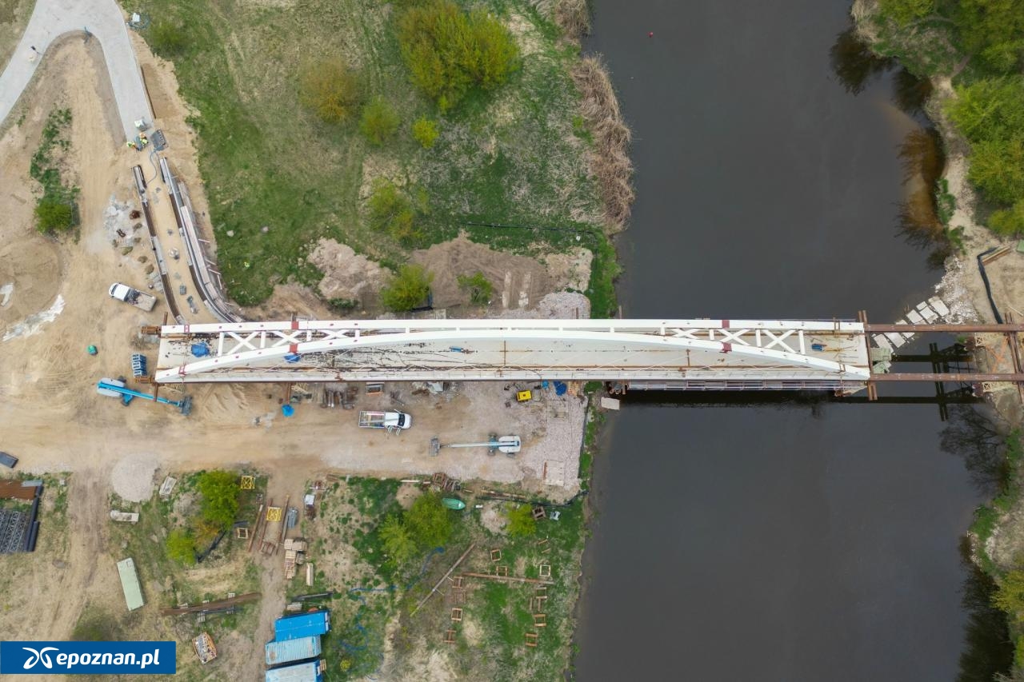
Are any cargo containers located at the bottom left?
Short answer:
Yes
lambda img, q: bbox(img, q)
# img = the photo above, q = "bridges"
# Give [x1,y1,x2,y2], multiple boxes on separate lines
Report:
[151,317,874,383]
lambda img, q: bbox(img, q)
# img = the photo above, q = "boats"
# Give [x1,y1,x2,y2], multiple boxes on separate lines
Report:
[442,496,466,510]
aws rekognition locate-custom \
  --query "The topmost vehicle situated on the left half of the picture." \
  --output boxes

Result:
[106,281,159,311]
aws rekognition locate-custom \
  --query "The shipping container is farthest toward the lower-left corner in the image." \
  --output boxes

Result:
[117,557,147,611]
